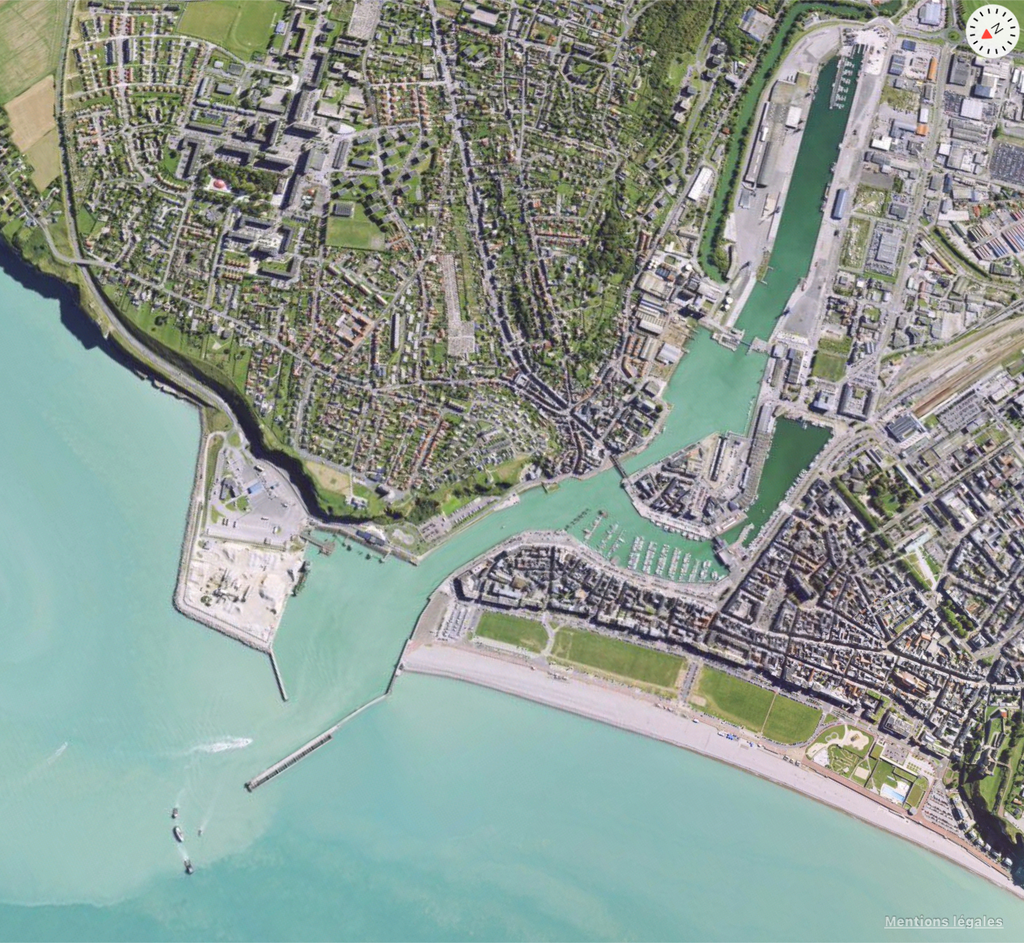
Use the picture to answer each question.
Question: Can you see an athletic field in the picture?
Yes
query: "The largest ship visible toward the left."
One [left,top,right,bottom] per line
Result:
[292,562,307,593]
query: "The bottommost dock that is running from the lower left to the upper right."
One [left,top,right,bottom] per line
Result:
[245,627,419,791]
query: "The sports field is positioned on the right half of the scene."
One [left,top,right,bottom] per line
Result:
[812,353,847,380]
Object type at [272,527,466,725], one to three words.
harbor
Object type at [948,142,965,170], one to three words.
building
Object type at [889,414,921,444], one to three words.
building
